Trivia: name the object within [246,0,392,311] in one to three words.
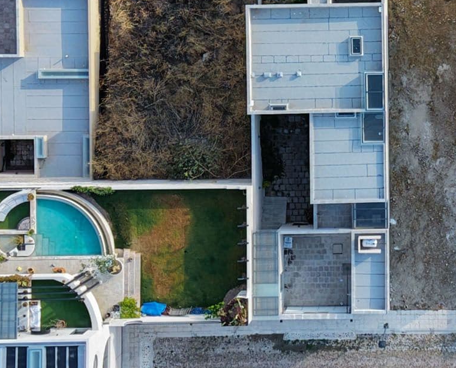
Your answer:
house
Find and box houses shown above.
[0,0,103,182]
[246,0,392,311]
[0,284,113,368]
